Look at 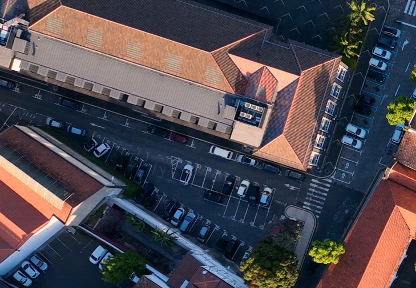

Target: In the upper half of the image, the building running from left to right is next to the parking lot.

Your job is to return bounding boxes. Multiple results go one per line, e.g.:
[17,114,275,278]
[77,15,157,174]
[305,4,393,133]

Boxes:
[0,0,353,172]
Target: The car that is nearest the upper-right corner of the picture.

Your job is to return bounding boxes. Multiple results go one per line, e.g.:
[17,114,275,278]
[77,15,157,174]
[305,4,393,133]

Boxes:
[380,25,402,39]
